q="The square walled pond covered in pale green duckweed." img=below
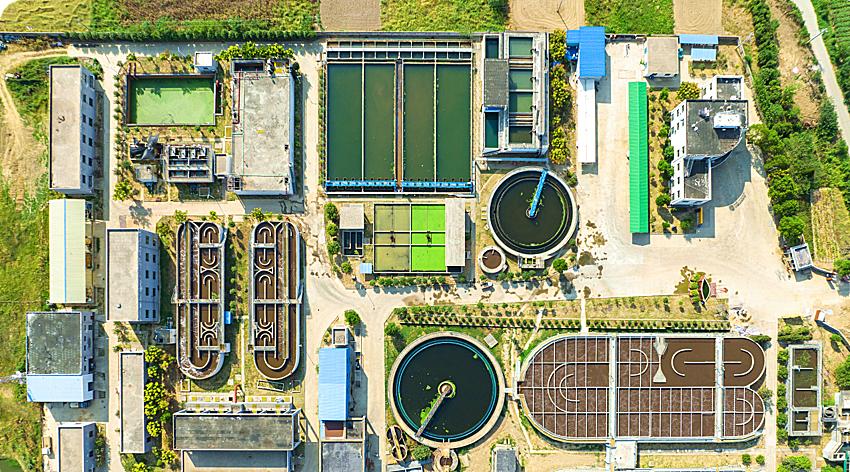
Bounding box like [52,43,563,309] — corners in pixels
[125,73,220,129]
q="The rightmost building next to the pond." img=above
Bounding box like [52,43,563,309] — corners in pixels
[232,60,295,196]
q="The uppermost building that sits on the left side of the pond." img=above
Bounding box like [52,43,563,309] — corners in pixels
[49,65,95,194]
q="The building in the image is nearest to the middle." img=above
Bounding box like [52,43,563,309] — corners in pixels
[446,197,467,268]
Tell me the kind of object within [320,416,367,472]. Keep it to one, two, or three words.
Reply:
house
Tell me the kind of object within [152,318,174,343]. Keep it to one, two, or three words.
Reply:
building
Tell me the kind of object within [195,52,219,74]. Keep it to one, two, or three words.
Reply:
shed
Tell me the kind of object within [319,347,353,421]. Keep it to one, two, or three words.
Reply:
house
